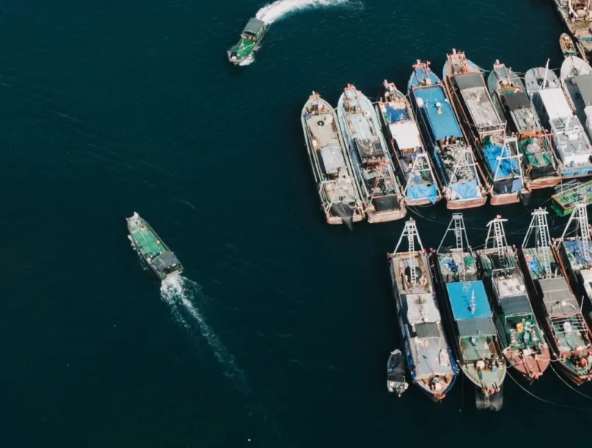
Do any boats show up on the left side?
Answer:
Yes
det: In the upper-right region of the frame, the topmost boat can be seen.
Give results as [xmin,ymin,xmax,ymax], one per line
[561,33,580,63]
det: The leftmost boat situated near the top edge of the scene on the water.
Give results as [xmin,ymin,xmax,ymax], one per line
[231,12,269,72]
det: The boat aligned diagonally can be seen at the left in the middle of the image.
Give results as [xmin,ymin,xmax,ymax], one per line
[130,214,184,284]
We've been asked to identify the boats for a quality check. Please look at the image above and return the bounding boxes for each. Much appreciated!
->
[231,12,269,72]
[561,33,580,63]
[411,56,484,209]
[341,79,404,226]
[130,214,184,284]
[480,201,543,389]
[439,208,501,403]
[558,195,592,338]
[522,199,590,389]
[377,76,442,209]
[386,352,410,397]
[564,53,592,151]
[304,87,363,228]
[533,64,592,182]
[550,177,592,217]
[489,56,560,192]
[391,210,452,406]
[446,45,525,205]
